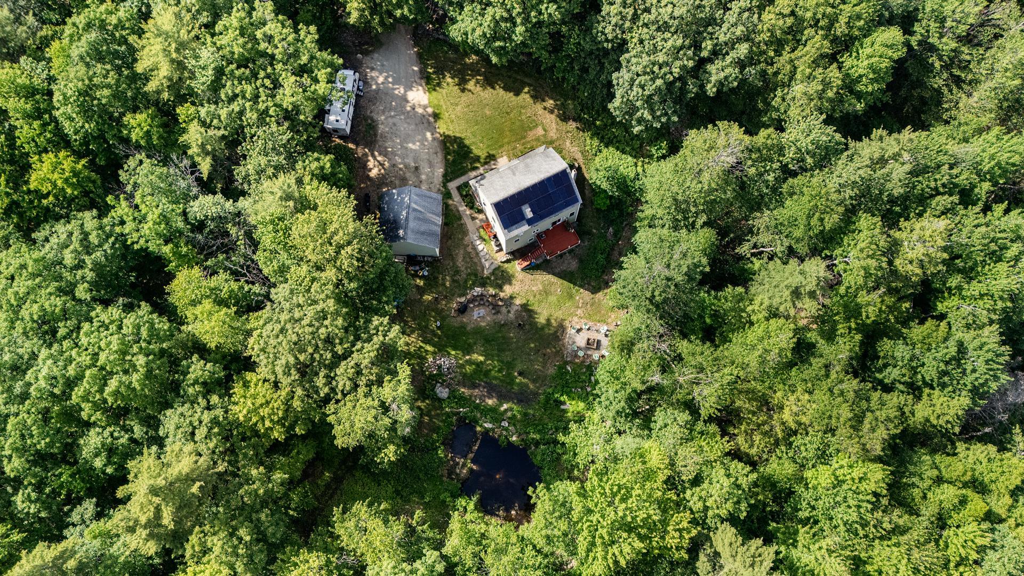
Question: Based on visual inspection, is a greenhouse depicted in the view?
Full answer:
No, this view has no greenhouse in it.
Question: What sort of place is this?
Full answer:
The picture captures a forest.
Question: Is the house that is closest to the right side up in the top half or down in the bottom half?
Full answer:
The house that is closest to the right side sits in the top half of the picture.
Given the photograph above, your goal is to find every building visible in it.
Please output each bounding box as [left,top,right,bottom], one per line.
[469,146,583,254]
[375,184,443,256]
